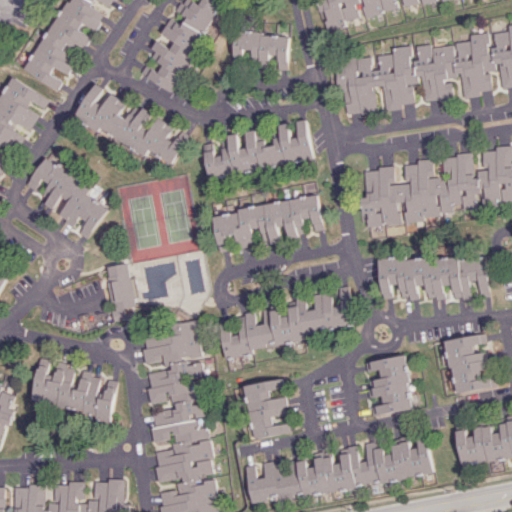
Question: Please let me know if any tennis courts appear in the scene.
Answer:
Yes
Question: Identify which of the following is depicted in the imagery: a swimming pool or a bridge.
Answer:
swimming pool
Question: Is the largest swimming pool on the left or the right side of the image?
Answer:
left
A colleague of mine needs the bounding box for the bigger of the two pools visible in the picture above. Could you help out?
[142,262,176,300]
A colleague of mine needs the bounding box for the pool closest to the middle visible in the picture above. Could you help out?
[186,259,205,294]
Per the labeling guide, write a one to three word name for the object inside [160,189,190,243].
tennis court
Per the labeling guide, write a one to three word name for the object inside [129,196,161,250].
tennis court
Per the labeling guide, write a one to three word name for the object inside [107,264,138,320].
building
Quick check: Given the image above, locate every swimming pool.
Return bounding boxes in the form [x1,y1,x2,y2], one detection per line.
[186,259,205,294]
[142,262,176,300]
